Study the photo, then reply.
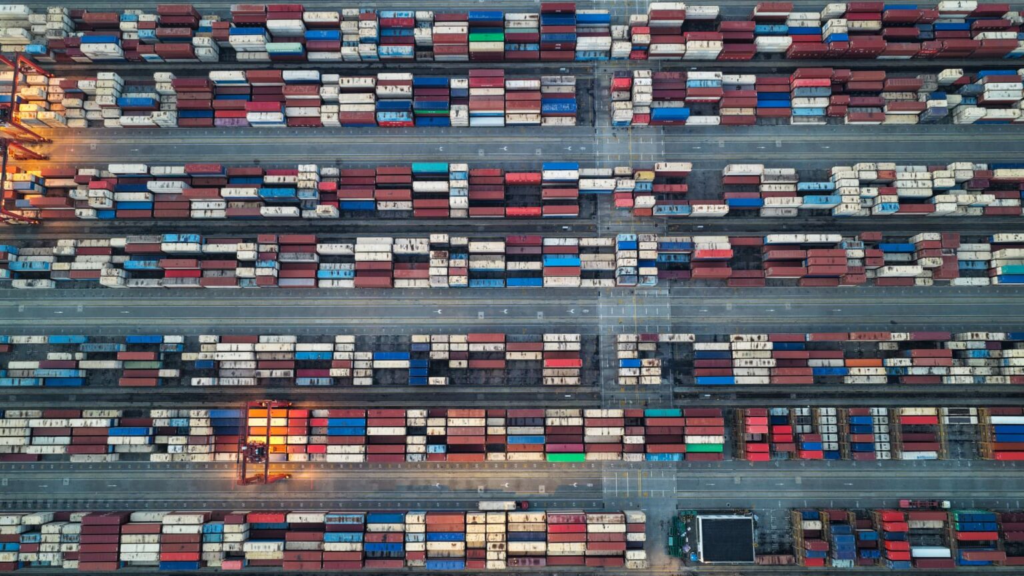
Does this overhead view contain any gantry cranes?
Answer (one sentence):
Yes, you can see a gantry crane in this photo.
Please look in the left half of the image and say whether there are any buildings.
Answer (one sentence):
No, no building appears in the left half of the image.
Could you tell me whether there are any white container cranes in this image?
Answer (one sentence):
No, I find no white container crane anywhere in the image.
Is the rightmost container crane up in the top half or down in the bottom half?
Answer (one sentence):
It is in the bottom half that the rightmost container crane appears.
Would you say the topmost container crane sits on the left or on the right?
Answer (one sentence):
The topmost container crane sits on the left side.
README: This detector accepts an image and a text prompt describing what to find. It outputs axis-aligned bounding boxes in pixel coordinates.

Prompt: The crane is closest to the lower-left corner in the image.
[236,401,297,484]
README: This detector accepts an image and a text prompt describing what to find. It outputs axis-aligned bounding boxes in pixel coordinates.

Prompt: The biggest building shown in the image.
[696,513,754,563]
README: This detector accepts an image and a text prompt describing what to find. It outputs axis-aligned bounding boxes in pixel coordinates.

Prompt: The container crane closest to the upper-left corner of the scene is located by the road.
[0,52,60,142]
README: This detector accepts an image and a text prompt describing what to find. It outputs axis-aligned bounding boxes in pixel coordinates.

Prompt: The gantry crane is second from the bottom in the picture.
[0,138,51,225]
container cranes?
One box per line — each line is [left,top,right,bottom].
[0,138,51,225]
[236,401,297,484]
[0,52,60,142]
